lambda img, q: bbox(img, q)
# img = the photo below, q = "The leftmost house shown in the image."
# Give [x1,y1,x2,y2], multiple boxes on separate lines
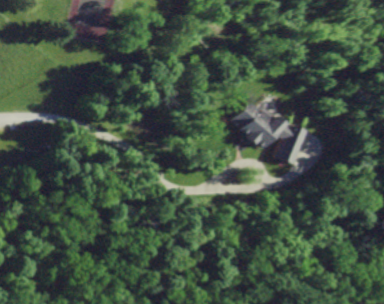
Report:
[232,100,292,149]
